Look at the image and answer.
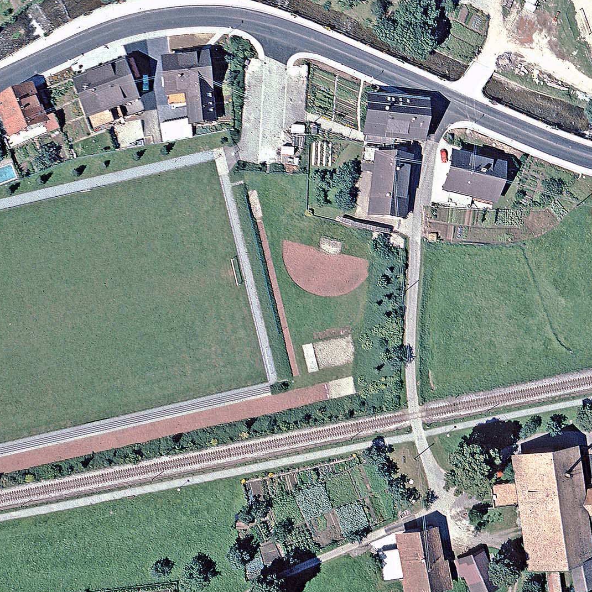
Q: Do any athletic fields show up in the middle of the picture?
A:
Yes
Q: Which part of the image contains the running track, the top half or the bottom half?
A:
bottom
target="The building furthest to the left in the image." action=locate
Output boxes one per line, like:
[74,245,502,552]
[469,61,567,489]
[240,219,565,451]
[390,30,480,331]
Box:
[0,81,59,136]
